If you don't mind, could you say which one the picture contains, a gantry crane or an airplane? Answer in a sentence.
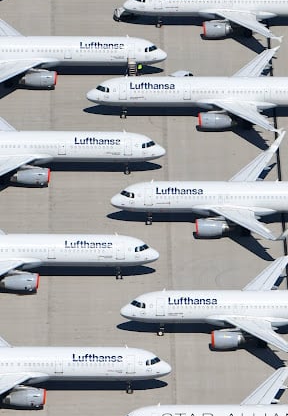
The one in the frame is an airplane.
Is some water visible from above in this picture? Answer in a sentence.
No, no water is visible.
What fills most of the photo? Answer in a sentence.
The scene is dominated by paved ground.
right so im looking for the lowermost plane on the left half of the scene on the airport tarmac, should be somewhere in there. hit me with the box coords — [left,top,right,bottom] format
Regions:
[0,334,172,406]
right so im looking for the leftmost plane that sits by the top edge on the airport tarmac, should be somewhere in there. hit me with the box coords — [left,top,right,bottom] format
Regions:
[0,16,166,87]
